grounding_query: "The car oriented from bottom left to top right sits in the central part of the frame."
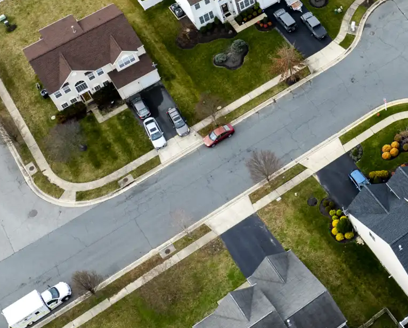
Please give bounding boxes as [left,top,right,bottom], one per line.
[201,123,237,151]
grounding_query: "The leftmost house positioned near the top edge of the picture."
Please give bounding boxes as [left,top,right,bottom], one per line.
[24,5,159,110]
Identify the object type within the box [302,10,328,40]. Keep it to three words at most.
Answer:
truck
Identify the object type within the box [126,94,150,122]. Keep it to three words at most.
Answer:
car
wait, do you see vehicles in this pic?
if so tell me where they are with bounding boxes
[302,10,328,40]
[273,8,297,32]
[201,123,237,151]
[0,291,70,328]
[126,94,150,122]
[142,118,165,149]
[164,106,189,137]
[345,167,373,196]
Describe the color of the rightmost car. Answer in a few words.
blue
